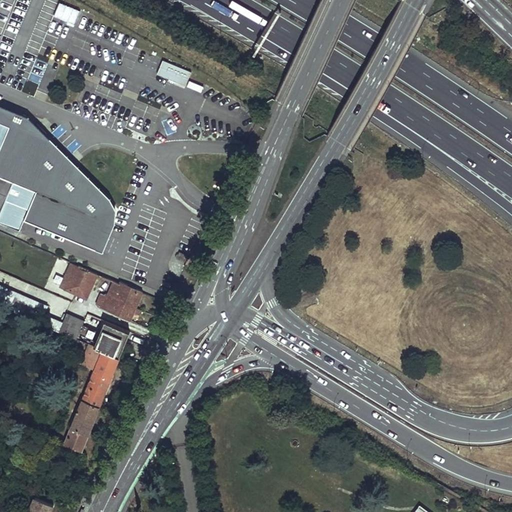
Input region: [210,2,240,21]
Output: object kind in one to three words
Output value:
vehicle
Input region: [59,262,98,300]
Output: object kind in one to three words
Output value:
house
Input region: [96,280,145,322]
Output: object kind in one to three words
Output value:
house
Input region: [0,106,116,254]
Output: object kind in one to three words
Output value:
building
